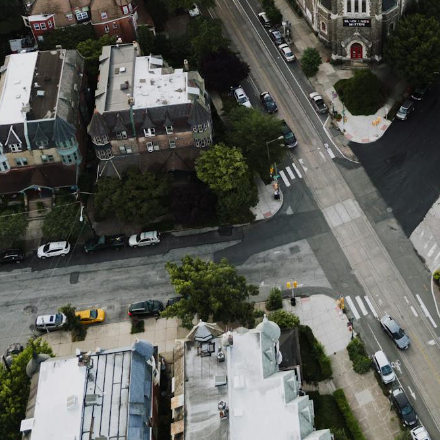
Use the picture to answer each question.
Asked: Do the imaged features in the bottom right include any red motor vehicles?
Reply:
No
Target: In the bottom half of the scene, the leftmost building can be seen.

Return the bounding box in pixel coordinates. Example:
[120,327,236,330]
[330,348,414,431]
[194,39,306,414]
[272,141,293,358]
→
[23,342,173,440]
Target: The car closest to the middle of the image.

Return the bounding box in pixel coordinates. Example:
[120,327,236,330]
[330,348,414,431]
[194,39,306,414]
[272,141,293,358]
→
[126,227,162,248]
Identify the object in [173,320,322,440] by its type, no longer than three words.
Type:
house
